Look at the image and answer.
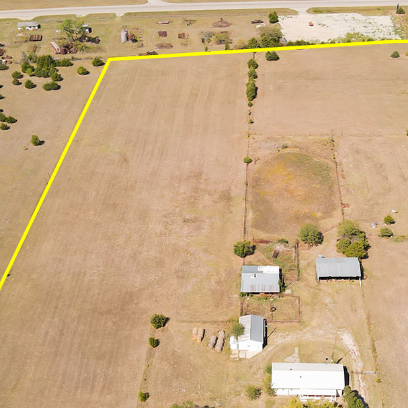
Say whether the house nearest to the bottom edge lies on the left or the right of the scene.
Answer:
right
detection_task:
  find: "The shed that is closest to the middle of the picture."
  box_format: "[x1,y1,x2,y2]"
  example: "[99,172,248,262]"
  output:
[240,266,280,298]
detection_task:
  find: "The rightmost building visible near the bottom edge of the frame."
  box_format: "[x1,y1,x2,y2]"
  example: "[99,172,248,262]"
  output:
[271,363,345,404]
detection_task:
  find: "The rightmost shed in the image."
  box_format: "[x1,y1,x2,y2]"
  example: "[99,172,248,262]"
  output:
[317,258,360,287]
